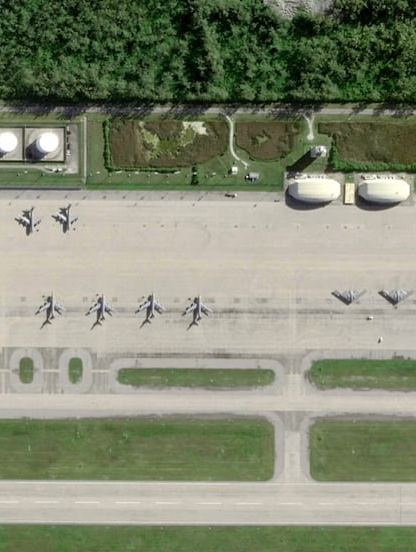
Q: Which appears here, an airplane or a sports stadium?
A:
airplane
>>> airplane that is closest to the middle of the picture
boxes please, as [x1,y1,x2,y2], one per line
[186,294,213,321]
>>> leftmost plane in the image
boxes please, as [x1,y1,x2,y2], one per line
[18,206,47,233]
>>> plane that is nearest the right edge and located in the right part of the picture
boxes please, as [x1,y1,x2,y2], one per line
[383,291,412,303]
